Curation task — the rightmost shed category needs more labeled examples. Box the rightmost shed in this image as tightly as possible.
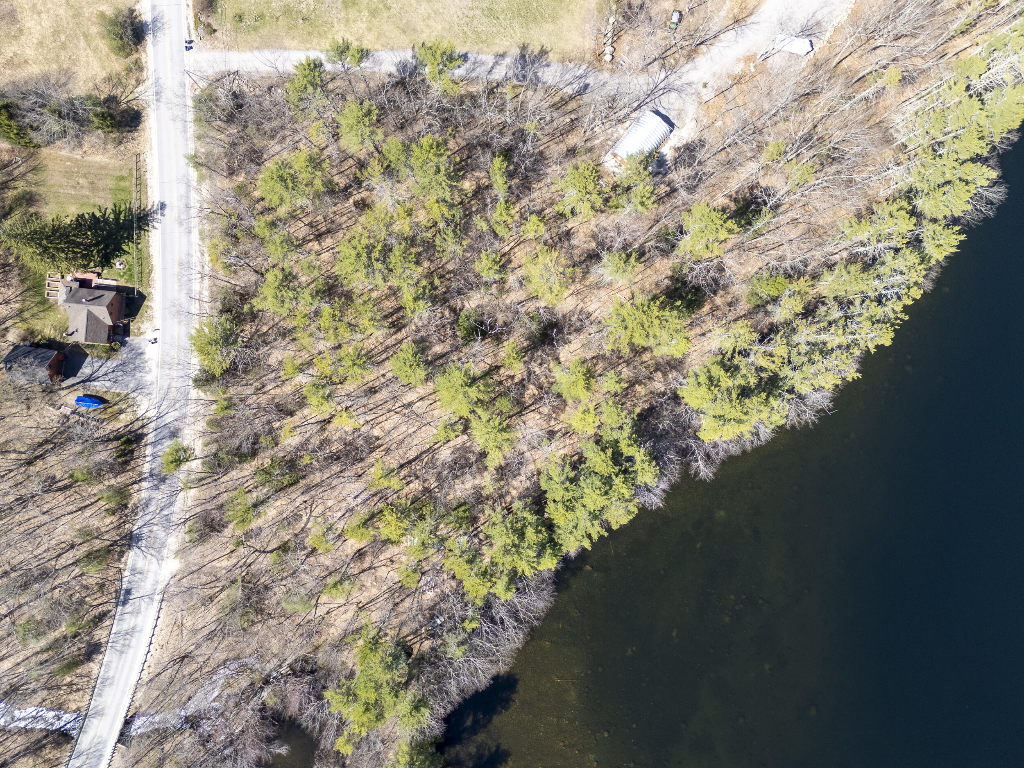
[607,104,669,168]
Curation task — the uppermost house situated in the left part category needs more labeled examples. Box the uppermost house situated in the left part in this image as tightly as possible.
[62,270,130,346]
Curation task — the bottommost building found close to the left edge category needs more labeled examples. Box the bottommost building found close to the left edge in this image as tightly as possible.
[3,346,66,387]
